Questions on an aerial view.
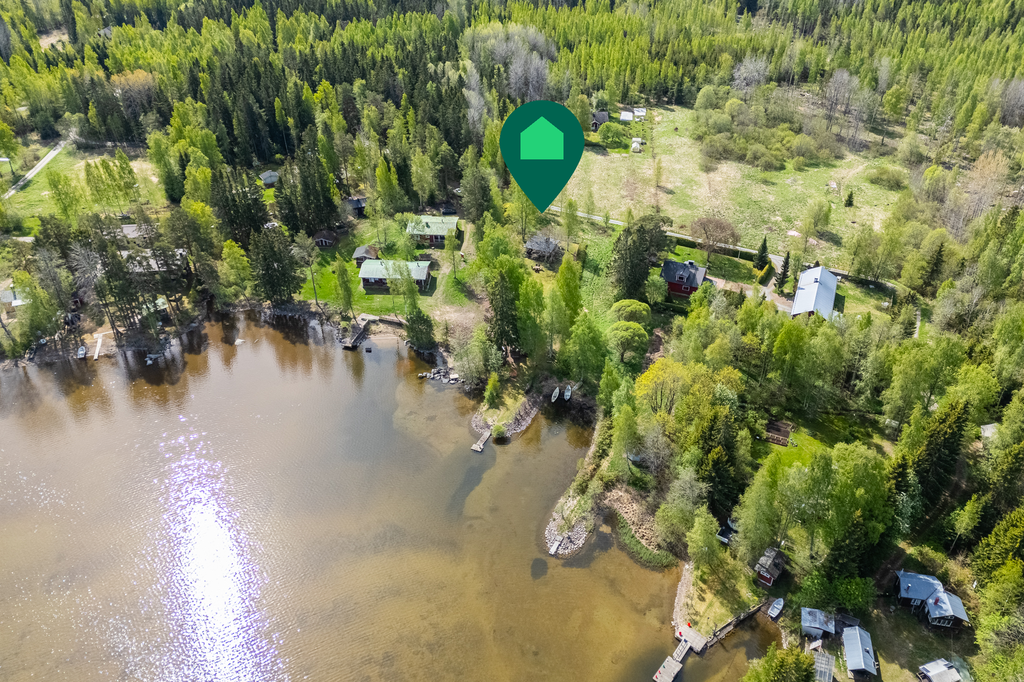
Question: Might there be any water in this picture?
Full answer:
Yes, there's water in this view.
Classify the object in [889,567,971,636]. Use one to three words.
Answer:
house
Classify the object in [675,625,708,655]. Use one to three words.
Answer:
pier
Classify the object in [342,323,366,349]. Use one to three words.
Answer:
pier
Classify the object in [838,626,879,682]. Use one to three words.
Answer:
shed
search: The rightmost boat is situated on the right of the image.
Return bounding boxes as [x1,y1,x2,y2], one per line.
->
[768,597,783,620]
